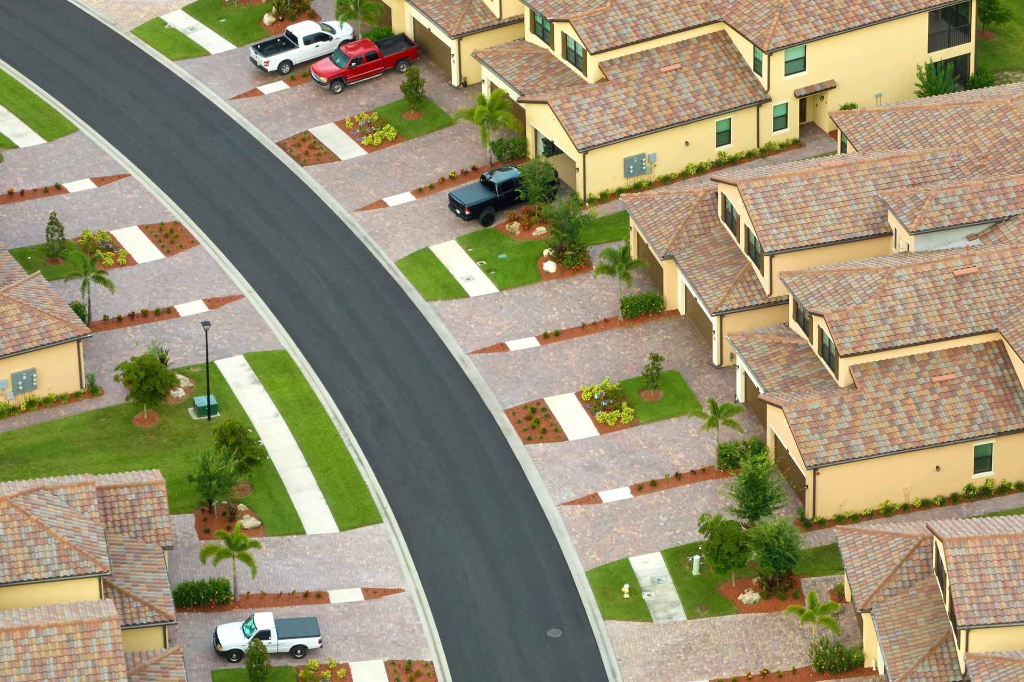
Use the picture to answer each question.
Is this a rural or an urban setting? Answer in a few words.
urban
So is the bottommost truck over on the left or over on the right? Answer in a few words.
left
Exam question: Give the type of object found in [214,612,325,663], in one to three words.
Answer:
truck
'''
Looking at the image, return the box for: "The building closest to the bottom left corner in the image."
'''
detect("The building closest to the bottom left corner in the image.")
[0,465,187,682]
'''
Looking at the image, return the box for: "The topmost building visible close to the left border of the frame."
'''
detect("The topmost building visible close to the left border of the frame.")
[0,234,96,410]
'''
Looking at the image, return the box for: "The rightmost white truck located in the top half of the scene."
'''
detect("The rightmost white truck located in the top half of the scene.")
[248,21,356,75]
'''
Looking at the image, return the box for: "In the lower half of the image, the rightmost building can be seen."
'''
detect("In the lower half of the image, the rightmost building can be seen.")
[833,515,1024,682]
